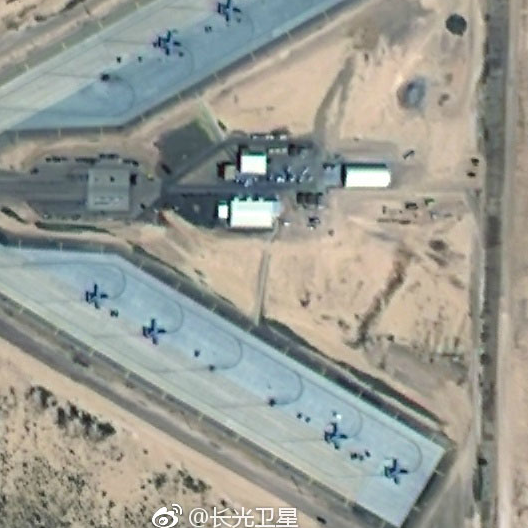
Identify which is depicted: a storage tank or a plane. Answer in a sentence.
I can see a plane in this picture.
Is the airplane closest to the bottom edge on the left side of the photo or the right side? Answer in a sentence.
The airplane closest to the bottom edge appears in the right half of the scene.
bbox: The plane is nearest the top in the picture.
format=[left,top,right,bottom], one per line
[217,0,241,21]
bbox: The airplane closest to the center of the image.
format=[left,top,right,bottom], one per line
[142,319,166,344]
